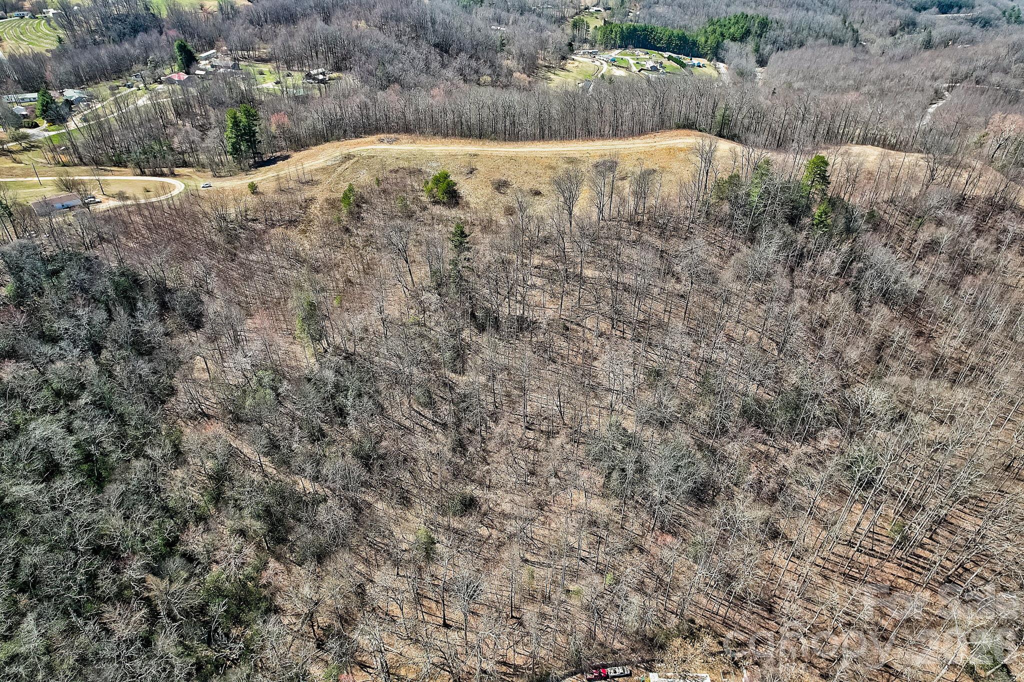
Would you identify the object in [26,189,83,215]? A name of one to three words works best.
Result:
house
